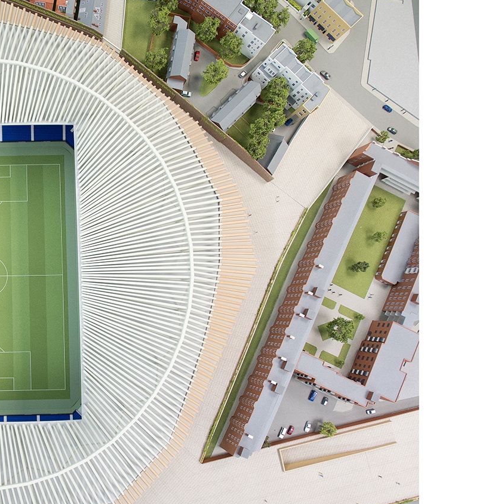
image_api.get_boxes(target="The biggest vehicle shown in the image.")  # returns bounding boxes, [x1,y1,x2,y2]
[305,29,318,41]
